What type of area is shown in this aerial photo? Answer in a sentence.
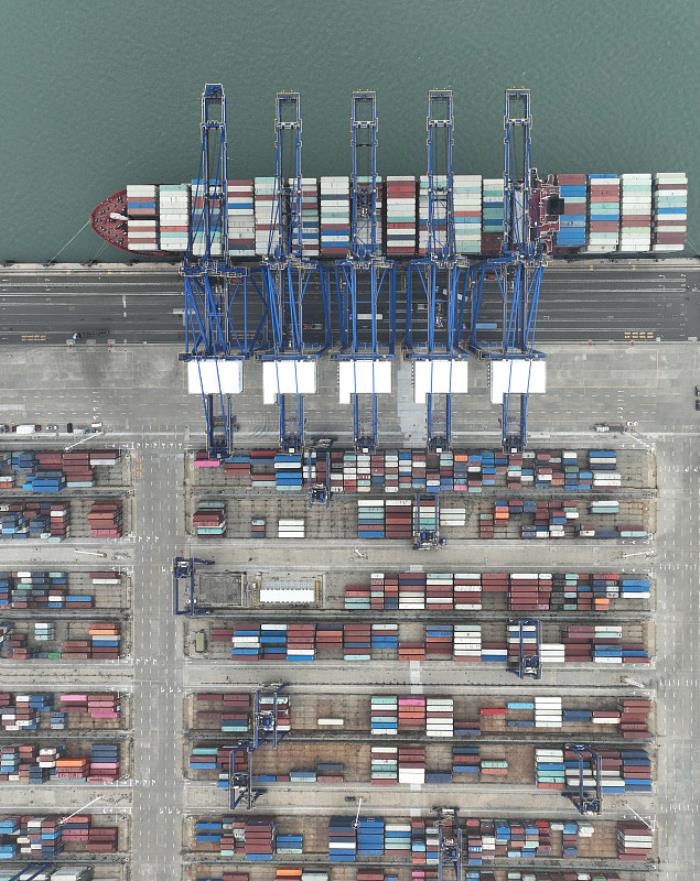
This looks like a port.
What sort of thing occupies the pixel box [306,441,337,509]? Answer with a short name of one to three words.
container crane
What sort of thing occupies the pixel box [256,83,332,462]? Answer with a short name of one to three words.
container crane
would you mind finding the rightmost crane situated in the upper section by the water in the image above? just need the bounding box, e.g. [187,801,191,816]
[468,82,549,460]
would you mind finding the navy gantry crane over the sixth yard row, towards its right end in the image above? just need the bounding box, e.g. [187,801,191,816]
[565,731,602,815]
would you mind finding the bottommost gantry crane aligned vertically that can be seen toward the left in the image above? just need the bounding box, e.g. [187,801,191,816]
[229,729,263,810]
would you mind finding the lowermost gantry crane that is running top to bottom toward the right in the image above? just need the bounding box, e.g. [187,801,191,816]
[432,803,463,881]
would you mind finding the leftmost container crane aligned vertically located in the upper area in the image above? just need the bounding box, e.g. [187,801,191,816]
[182,83,264,462]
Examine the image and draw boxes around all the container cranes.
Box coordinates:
[255,671,287,750]
[229,729,263,810]
[331,83,399,457]
[398,83,472,460]
[172,544,209,617]
[256,83,332,462]
[565,731,602,815]
[409,489,441,551]
[182,83,264,462]
[306,441,337,509]
[432,803,463,881]
[507,607,542,680]
[468,82,549,460]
